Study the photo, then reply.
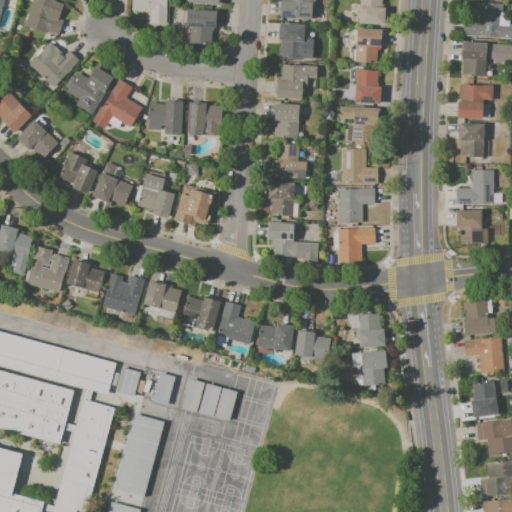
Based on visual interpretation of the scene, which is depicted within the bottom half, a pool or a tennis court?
pool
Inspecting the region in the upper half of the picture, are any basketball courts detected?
No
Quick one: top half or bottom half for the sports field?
bottom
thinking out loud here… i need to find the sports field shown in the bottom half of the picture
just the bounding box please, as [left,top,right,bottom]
[245,386,401,512]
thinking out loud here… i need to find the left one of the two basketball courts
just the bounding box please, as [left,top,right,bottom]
[181,435,223,502]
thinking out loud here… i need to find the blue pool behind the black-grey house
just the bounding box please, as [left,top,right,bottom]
[262,350,292,368]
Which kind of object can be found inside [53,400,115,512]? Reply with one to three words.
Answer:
building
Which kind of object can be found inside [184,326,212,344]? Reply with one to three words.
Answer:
swimming pool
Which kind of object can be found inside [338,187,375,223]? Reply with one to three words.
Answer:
house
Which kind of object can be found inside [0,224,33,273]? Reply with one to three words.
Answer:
house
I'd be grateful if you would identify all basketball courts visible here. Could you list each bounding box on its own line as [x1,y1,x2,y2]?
[214,444,255,512]
[181,435,223,502]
